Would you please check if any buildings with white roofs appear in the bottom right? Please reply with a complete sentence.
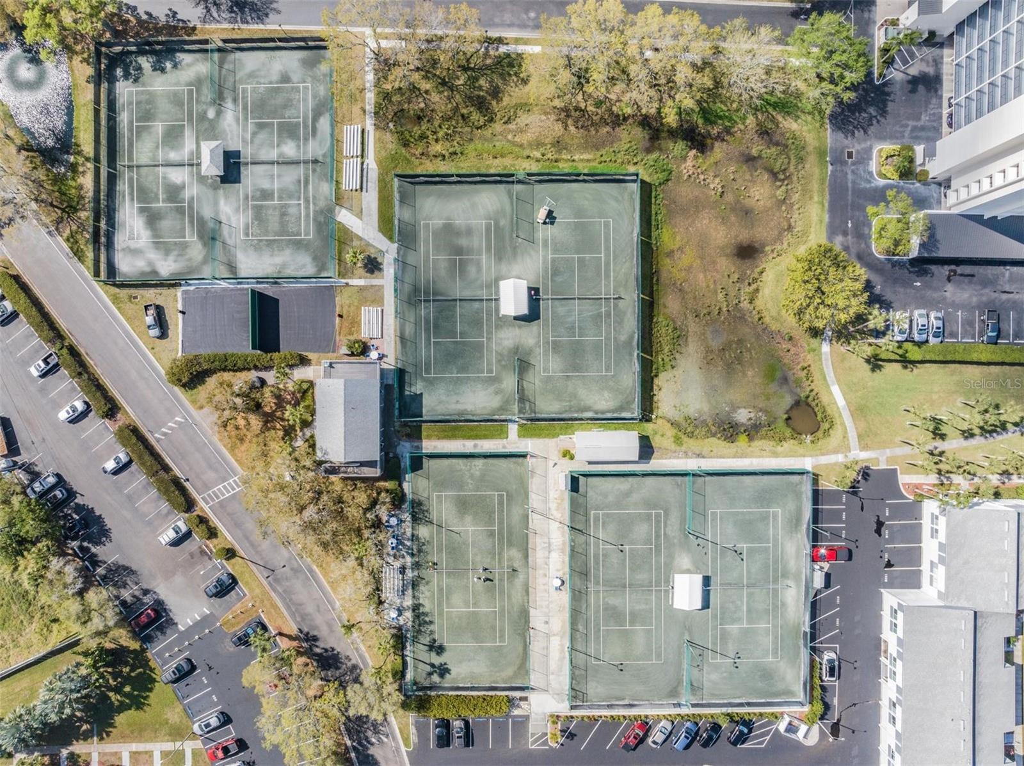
Yes, you'll find a building with a white roof in the bottom right.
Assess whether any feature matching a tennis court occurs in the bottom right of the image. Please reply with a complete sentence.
Yes, you'll find a tennis court in the bottom right of the image.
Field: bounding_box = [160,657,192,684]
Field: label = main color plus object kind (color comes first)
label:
gray car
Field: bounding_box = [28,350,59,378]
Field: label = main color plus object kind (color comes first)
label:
white truck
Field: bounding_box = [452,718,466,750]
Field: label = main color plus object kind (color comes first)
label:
gray vehicle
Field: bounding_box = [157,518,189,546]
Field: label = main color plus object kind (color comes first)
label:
white car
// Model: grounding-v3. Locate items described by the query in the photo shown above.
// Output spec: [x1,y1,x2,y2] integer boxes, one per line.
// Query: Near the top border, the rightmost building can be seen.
[909,0,1024,218]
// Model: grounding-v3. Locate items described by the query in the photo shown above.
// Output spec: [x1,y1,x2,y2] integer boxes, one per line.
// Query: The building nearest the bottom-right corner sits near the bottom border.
[877,502,1024,766]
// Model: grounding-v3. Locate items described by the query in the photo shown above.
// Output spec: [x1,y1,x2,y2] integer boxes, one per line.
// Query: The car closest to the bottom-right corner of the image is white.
[822,650,839,682]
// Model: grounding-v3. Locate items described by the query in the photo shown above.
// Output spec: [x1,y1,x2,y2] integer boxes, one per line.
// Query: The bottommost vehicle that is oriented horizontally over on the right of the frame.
[813,547,851,563]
